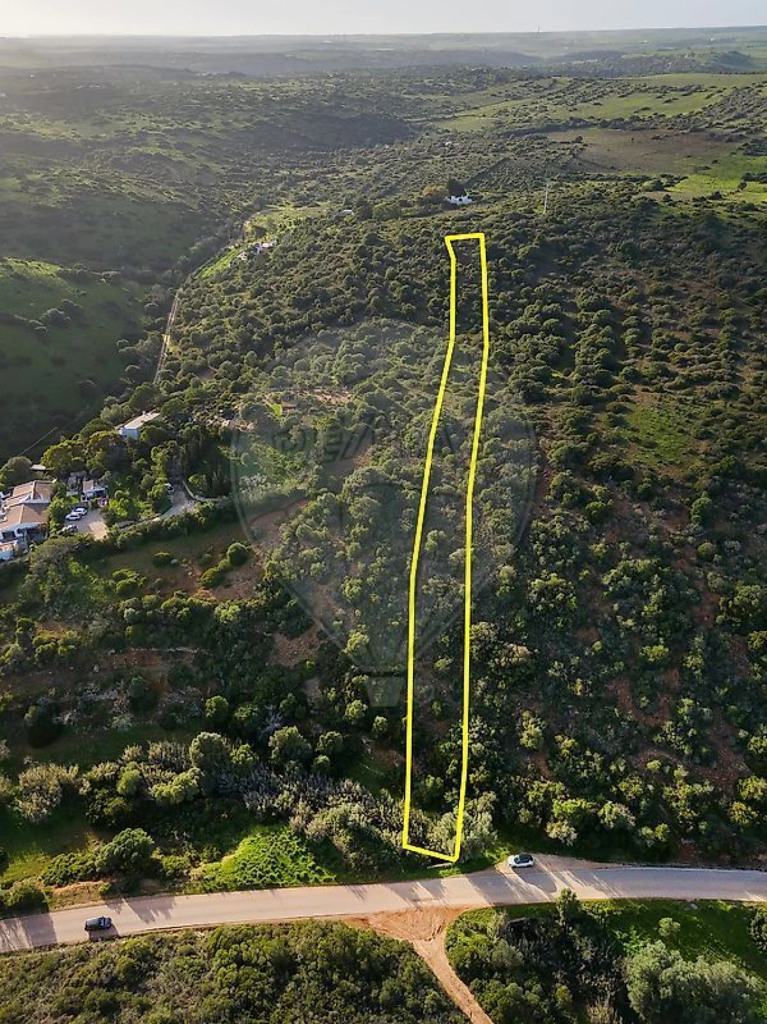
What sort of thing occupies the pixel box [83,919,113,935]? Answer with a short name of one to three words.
car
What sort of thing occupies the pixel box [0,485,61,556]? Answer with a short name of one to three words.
house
